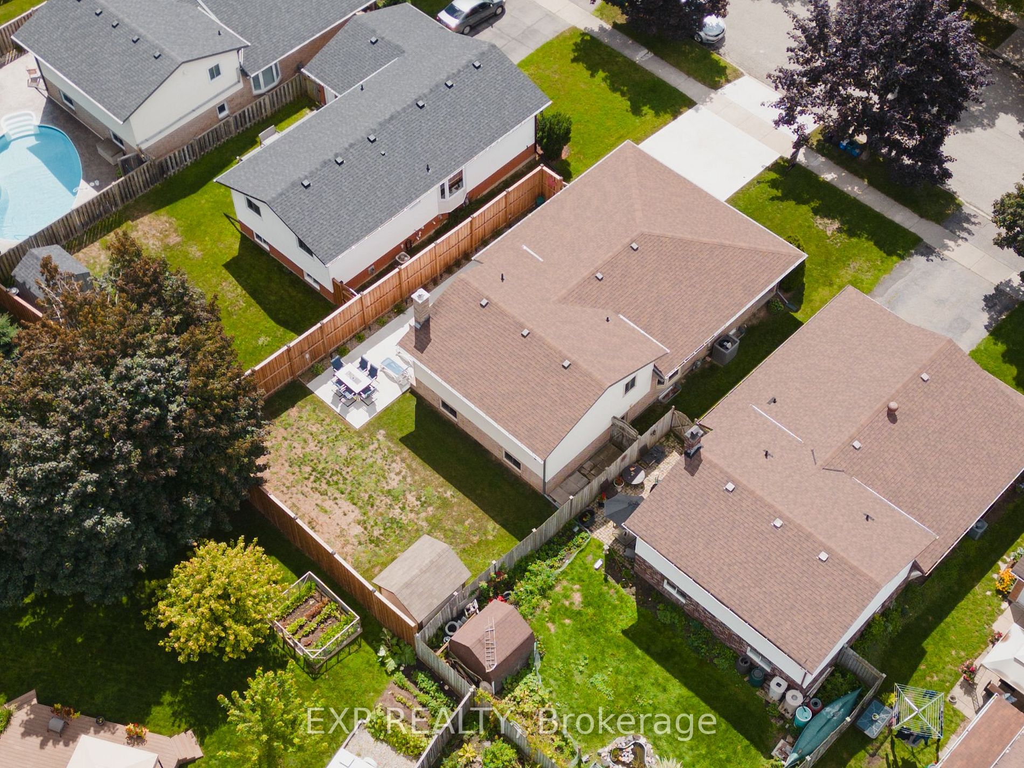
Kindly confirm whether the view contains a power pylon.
No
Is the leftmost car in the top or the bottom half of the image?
top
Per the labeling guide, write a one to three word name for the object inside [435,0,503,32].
car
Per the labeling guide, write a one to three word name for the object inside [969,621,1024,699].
gazebo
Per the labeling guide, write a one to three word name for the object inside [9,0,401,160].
house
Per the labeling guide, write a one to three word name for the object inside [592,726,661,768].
pond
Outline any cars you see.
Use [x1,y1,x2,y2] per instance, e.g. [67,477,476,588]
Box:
[435,0,503,32]
[681,9,724,40]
